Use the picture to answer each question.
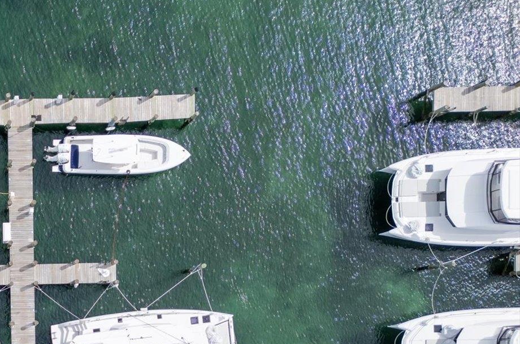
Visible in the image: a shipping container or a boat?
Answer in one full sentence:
Visible in the photo is a boat.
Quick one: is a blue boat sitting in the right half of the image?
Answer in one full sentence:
No, I see no blue boat in the right half of the image.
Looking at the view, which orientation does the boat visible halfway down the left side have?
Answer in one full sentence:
From this overhead view, the boat visible halfway down the left side appears to run from left to right.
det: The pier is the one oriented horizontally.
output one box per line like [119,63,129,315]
[420,77,520,121]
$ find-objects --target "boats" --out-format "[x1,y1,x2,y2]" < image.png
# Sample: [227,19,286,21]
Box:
[371,147,520,247]
[51,310,237,344]
[381,303,520,344]
[41,135,191,175]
